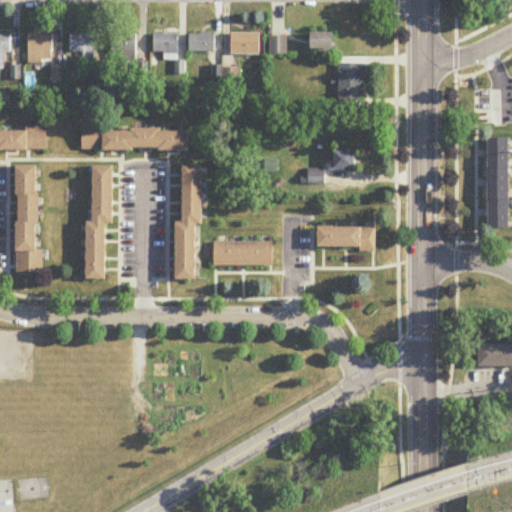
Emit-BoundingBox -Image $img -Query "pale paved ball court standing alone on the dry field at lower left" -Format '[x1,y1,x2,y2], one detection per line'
[19,478,49,500]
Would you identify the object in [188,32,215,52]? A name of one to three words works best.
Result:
house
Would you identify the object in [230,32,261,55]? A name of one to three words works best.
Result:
house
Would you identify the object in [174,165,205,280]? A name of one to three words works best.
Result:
building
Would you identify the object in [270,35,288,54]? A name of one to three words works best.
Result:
building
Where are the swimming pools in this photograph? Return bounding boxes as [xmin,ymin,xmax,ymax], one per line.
[24,71,37,92]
